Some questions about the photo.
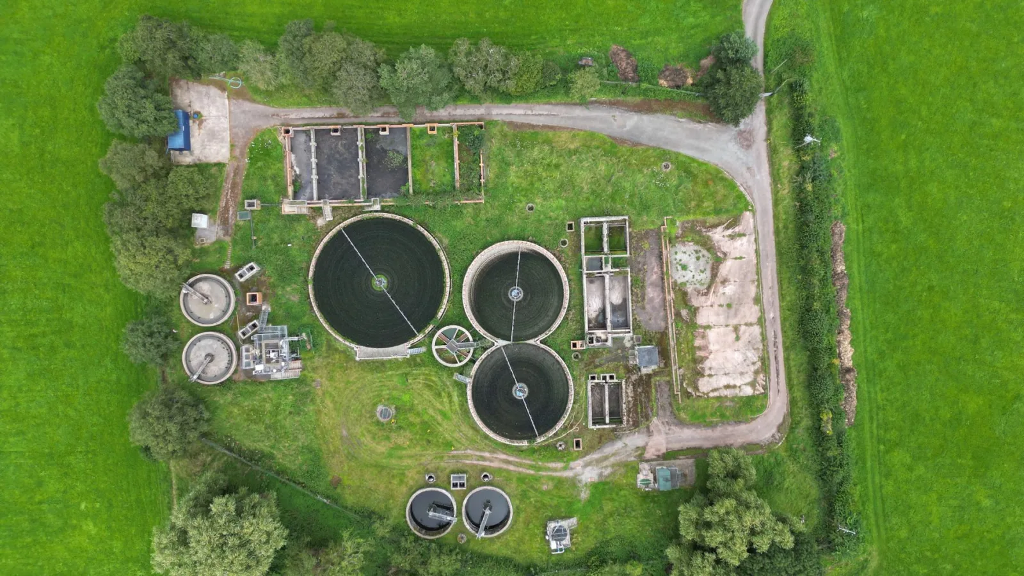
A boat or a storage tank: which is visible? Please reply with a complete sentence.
This aerial view contains a storage tank.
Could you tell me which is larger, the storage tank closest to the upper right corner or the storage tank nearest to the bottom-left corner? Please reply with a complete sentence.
Of the two, the storage tank closest to the upper right corner is bigger, while the storage tank nearest to the bottom-left corner is smaller.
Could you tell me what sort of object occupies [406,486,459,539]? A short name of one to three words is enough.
storage tank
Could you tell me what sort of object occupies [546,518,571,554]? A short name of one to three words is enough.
building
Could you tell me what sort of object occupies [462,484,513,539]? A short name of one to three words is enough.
storage tank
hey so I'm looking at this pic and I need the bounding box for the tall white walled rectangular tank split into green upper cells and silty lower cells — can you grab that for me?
[580,216,633,348]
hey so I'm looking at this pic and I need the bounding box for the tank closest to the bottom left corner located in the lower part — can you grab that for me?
[183,330,239,385]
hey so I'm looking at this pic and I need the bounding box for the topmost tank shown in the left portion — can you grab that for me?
[179,273,238,327]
